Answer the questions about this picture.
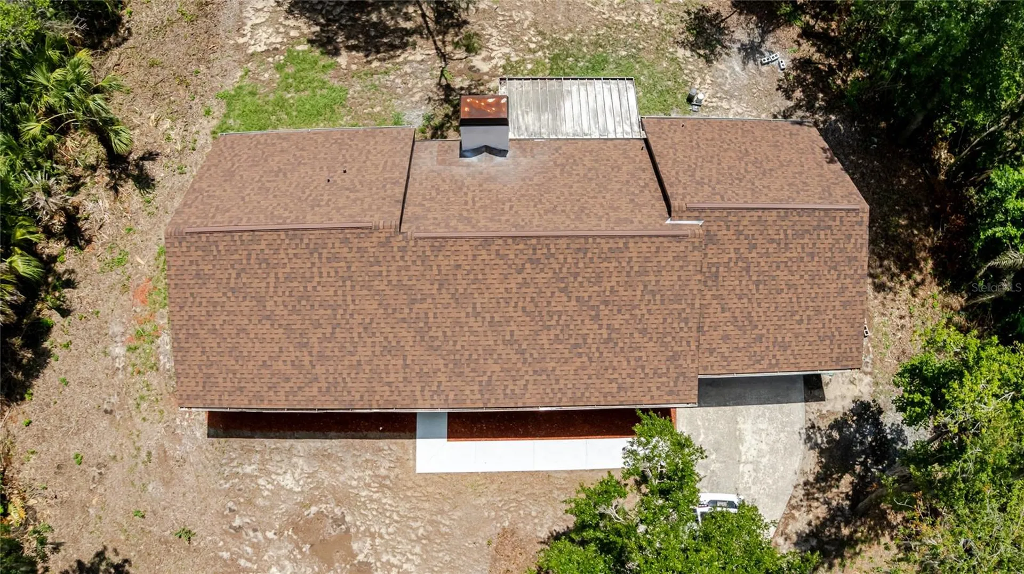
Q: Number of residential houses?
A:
1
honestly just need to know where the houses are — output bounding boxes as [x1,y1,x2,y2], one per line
[166,78,869,414]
